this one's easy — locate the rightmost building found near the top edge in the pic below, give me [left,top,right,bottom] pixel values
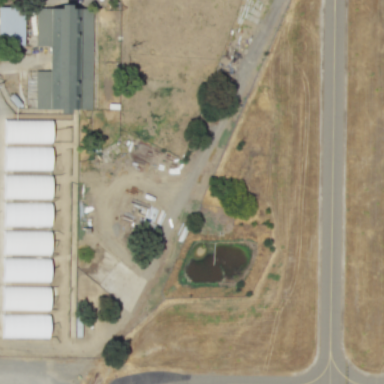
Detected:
[38,3,94,112]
